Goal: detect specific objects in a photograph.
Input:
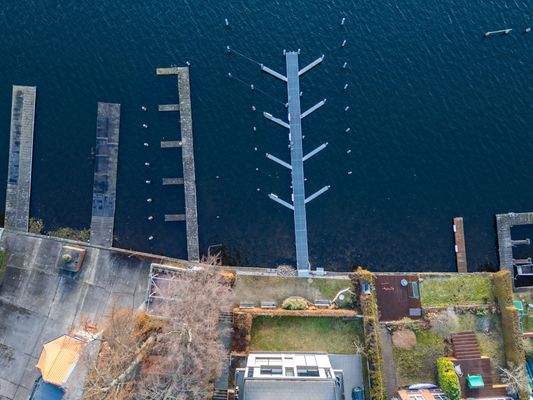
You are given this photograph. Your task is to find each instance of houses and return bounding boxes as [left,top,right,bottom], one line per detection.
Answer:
[395,382,448,400]
[37,333,87,384]
[235,353,344,400]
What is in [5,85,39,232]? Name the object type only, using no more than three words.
pier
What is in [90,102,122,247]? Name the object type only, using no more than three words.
pier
